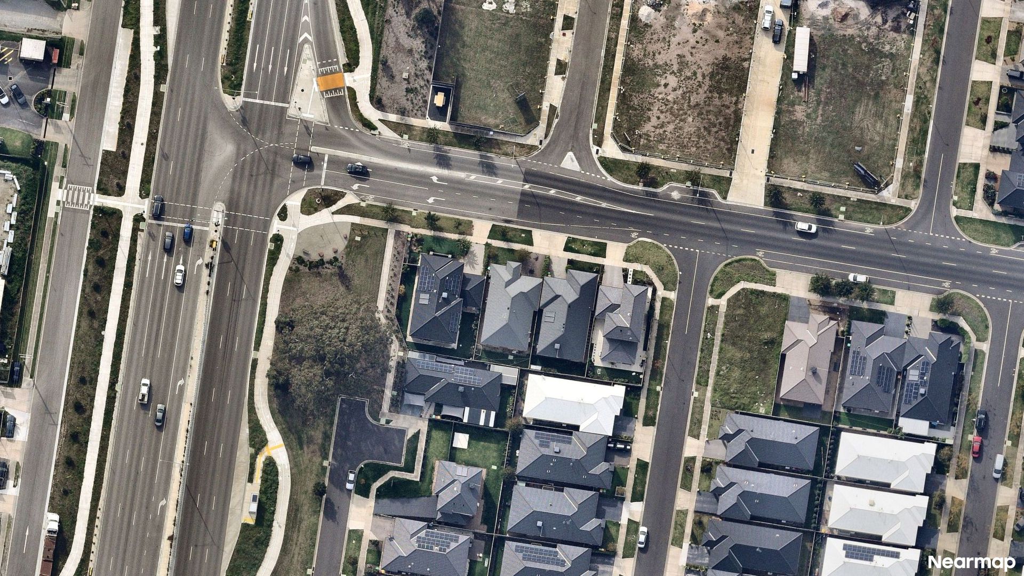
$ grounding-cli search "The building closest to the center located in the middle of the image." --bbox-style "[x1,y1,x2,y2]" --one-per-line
[481,260,543,351]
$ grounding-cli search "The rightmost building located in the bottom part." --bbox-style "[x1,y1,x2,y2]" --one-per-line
[897,332,961,436]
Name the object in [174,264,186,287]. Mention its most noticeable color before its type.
white vehicle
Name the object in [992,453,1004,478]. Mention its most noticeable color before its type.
white vehicle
